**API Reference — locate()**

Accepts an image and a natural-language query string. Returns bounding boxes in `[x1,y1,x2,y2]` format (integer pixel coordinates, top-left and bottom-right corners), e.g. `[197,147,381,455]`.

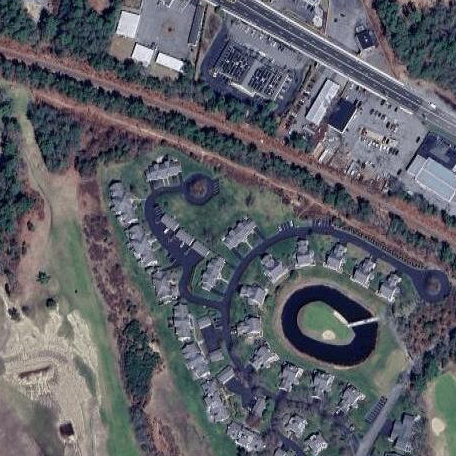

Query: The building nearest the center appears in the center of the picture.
[222,217,258,251]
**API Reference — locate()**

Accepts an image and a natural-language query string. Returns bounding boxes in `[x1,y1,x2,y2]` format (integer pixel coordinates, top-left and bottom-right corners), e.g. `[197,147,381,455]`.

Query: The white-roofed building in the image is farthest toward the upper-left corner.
[115,11,140,39]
